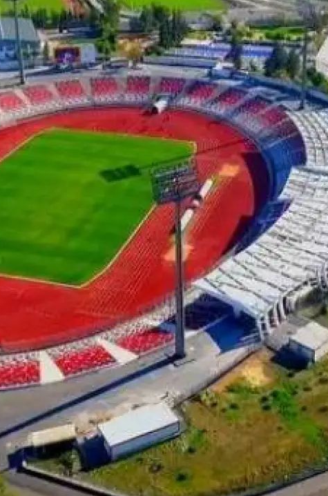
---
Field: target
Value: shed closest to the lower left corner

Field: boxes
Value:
[28,421,77,457]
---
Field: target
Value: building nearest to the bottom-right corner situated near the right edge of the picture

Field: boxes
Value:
[288,321,328,363]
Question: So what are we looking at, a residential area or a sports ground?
sports ground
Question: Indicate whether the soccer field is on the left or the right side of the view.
left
